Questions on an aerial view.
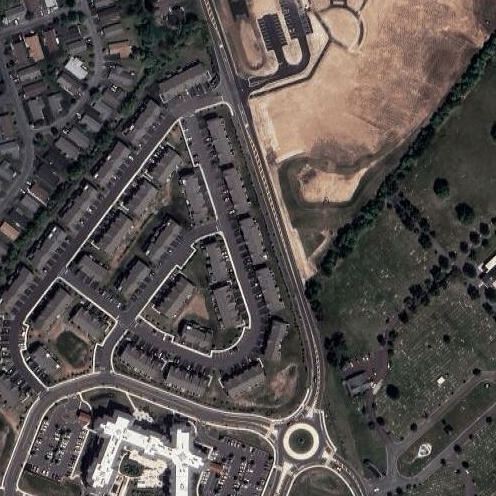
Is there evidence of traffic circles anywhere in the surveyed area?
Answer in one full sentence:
Yes, a traffic circle appears in the view.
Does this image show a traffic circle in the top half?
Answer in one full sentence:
No, I see no traffic circle in the top half.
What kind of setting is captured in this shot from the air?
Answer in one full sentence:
What you see here is a residential area.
